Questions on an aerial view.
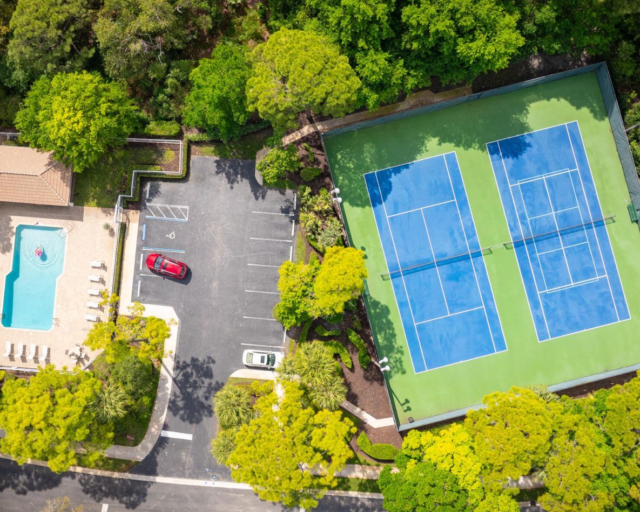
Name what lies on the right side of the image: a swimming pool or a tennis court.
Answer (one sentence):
Visible on the right side of the image is a tennis court.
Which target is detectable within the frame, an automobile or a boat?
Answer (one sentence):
It is an automobile that can be seen here.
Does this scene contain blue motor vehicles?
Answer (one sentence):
No, there isn't any blue motor vehicle down there.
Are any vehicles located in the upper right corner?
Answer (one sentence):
No, there's no vehicle to be seen in the upper right corner.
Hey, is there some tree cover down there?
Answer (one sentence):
Yes, some tree cover is visible.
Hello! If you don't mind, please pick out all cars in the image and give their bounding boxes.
[147,255,187,279]
[242,349,286,369]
